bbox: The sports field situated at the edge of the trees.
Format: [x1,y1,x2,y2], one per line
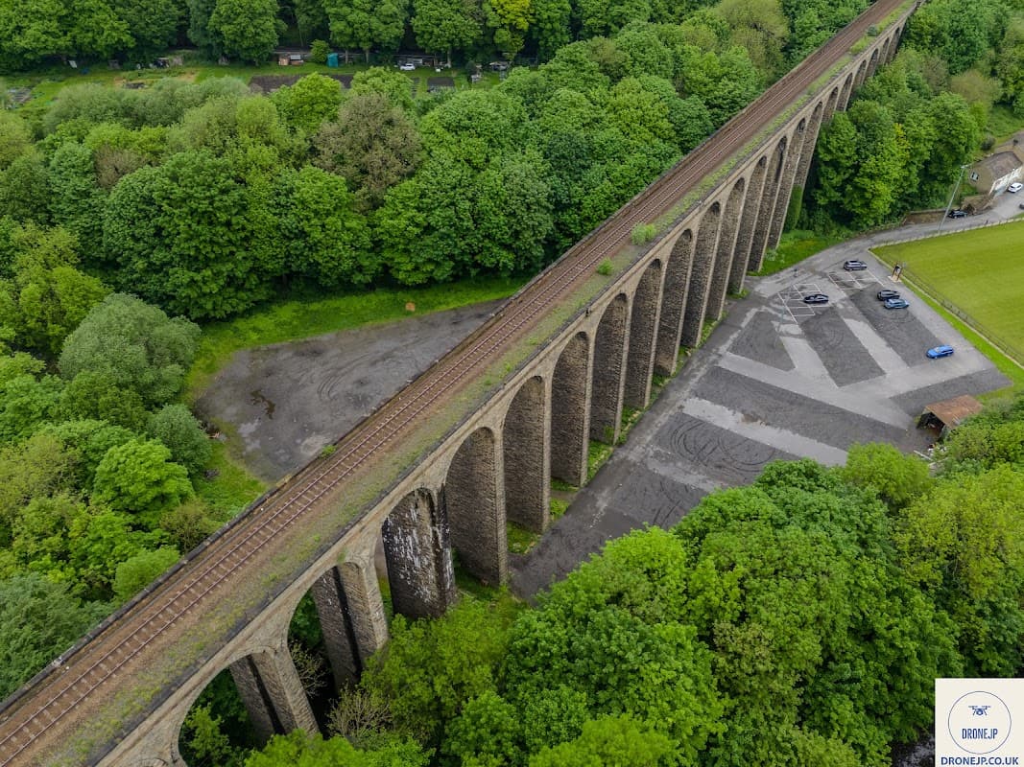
[877,217,1024,373]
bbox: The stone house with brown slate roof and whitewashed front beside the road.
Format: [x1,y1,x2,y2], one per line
[962,148,1024,194]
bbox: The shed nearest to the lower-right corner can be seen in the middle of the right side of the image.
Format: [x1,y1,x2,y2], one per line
[916,396,989,448]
